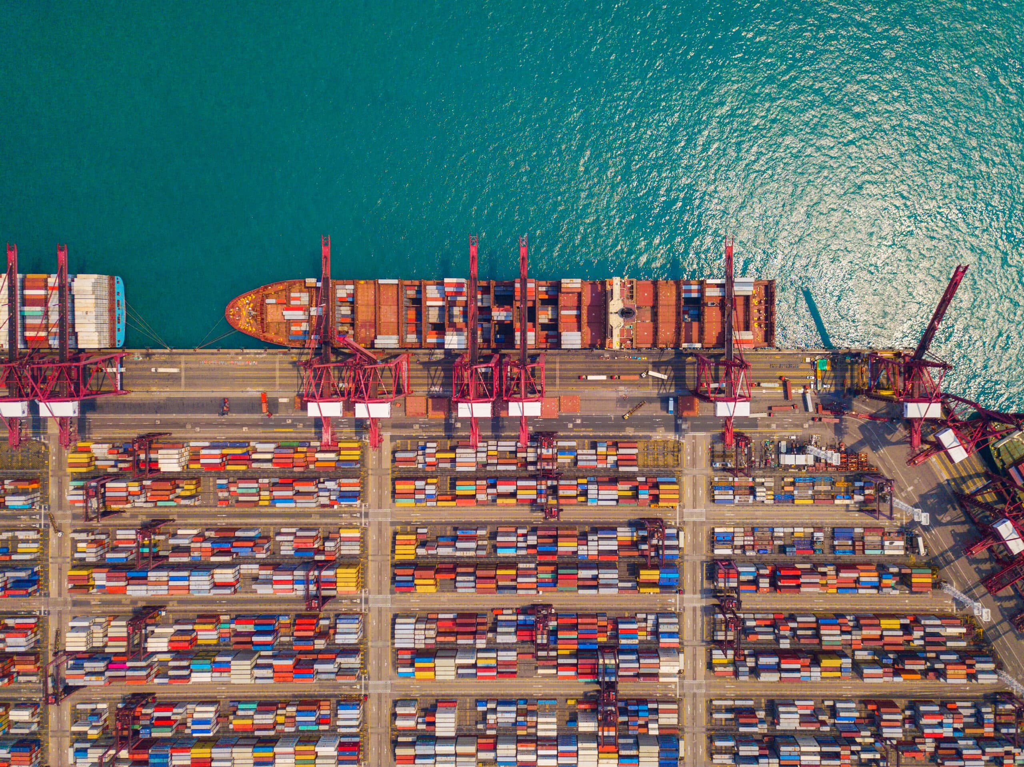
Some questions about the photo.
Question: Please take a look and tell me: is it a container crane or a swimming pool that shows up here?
container crane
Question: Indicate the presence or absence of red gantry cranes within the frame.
Yes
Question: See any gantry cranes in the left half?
Yes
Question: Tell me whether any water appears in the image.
Yes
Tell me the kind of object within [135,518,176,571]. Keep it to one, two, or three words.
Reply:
container crane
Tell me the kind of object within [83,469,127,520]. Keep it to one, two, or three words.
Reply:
container crane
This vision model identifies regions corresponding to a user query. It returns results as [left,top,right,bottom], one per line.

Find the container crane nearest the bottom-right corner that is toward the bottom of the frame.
[982,690,1024,753]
